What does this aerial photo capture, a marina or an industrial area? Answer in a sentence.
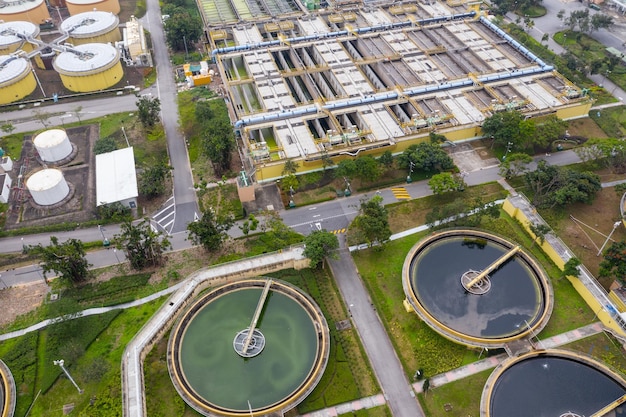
What you see here is an industrial area.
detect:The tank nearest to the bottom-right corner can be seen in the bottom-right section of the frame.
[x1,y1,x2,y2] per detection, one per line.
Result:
[474,341,626,417]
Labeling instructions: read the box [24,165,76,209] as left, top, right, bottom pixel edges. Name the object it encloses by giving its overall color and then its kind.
white storage tank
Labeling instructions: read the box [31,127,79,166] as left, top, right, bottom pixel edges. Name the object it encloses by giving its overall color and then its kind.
white storage tank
